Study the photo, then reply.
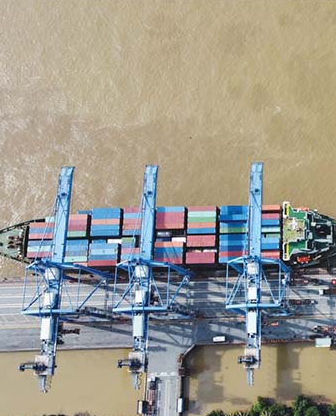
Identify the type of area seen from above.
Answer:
port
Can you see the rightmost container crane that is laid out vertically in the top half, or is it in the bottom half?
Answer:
bottom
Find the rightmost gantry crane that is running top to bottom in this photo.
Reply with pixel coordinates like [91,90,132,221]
[225,162,297,386]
